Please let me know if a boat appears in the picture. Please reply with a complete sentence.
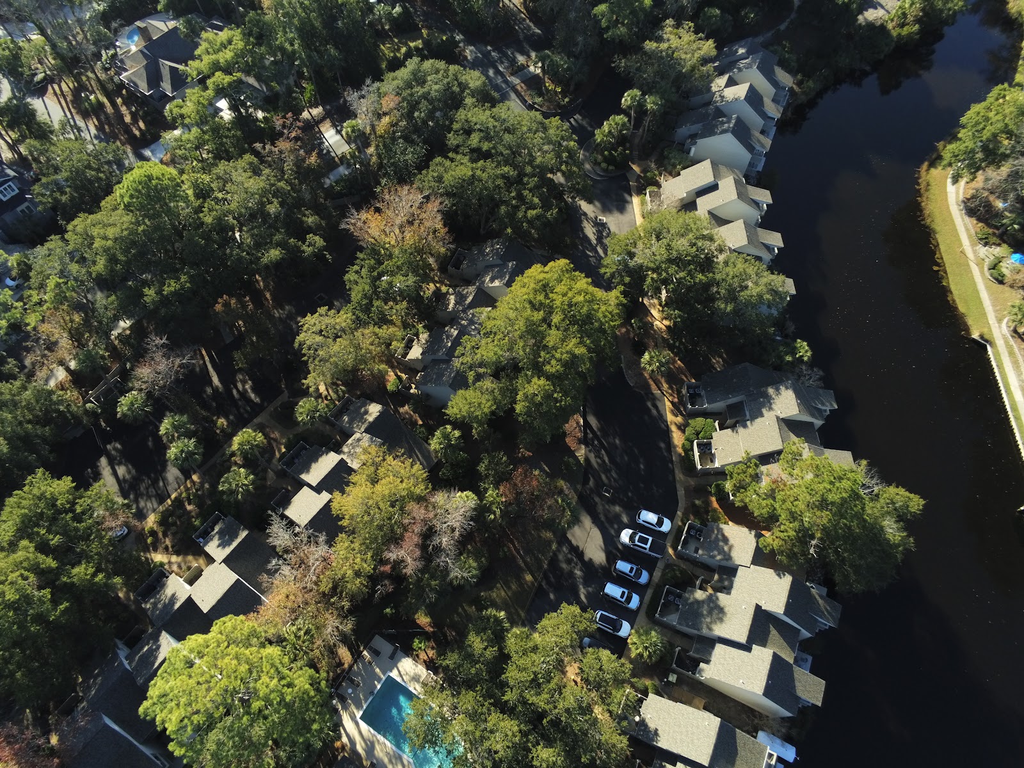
Yes, there is a boat in the image.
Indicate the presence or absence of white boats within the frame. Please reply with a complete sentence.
No, the photo shows no white boat.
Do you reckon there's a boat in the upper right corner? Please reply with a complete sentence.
No, no boat can be made out in the upper right corner.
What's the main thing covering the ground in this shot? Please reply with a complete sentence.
The scene is dominated by trees.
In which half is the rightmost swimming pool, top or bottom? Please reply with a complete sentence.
It is in the bottom half that the rightmost swimming pool appears.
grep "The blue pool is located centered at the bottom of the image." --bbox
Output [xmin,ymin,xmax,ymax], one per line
[355,669,463,768]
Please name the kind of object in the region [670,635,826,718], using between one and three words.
house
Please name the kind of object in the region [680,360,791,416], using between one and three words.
house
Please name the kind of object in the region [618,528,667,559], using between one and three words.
truck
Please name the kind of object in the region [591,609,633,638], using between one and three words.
car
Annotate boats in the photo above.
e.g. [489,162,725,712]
[755,727,803,761]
